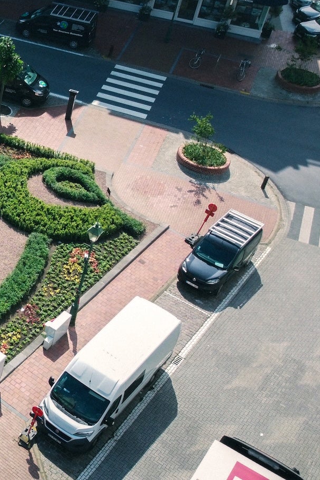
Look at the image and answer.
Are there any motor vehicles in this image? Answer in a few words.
Yes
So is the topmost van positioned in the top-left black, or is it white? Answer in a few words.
black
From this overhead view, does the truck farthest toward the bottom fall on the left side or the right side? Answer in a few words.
right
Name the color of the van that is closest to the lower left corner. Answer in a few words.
white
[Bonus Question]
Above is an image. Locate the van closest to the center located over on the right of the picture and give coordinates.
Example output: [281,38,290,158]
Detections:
[182,214,265,301]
